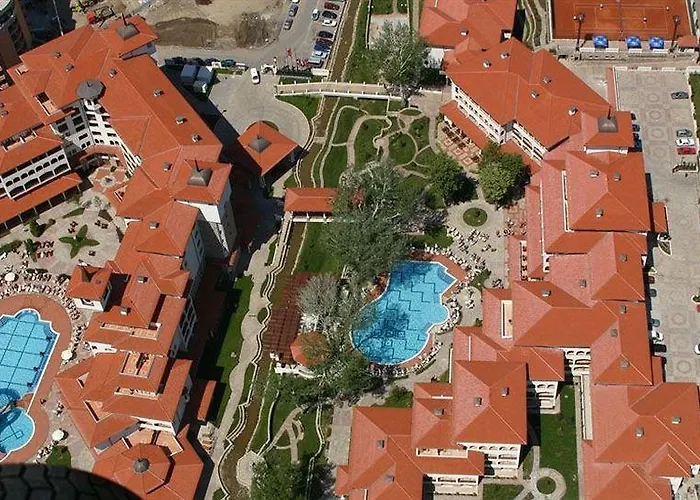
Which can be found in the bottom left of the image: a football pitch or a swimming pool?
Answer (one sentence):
What appears in the bottom left of the image is a swimming pool.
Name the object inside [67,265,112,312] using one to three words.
building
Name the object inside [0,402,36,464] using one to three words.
swimming pool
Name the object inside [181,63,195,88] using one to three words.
vehicle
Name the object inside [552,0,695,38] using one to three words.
tennis court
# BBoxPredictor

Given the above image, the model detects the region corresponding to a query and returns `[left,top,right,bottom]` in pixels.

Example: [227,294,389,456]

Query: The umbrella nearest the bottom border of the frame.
[48,429,65,444]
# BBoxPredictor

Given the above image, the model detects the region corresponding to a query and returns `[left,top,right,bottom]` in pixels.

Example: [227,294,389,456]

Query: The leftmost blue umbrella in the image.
[593,36,610,49]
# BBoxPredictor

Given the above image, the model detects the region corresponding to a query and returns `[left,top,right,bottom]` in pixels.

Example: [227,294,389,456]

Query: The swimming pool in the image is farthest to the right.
[349,260,458,365]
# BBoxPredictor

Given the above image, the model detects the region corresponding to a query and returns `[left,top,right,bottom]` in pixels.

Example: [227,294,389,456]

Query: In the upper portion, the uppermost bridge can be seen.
[273,80,404,104]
